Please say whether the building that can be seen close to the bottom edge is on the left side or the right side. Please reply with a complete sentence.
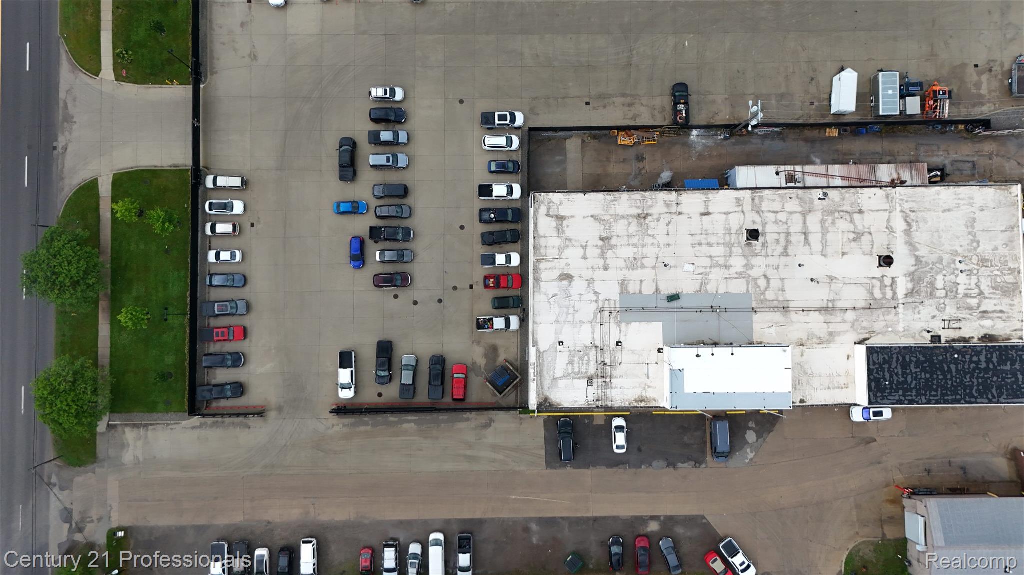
The building that can be seen close to the bottom edge sits on the right side.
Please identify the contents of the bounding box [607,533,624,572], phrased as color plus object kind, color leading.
black car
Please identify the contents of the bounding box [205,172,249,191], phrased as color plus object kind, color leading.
white vehicle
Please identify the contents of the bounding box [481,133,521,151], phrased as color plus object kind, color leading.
white car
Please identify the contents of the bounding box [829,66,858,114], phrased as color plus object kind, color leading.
white trailer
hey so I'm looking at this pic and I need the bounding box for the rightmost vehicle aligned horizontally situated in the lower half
[847,406,892,423]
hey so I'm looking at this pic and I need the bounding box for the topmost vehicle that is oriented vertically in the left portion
[337,137,357,184]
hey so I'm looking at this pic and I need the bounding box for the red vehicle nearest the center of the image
[483,272,523,291]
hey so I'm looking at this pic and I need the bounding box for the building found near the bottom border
[903,494,1024,575]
